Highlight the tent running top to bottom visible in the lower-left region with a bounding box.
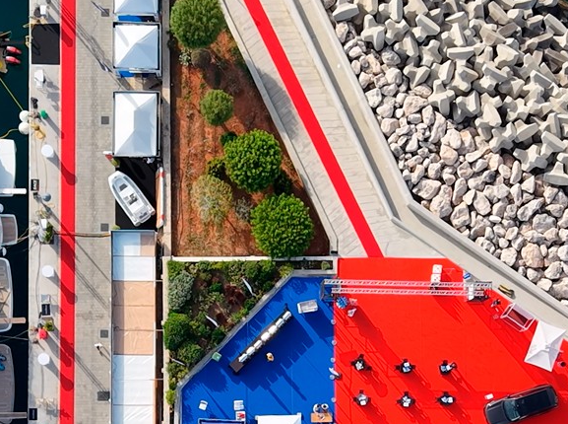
[112,230,165,424]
